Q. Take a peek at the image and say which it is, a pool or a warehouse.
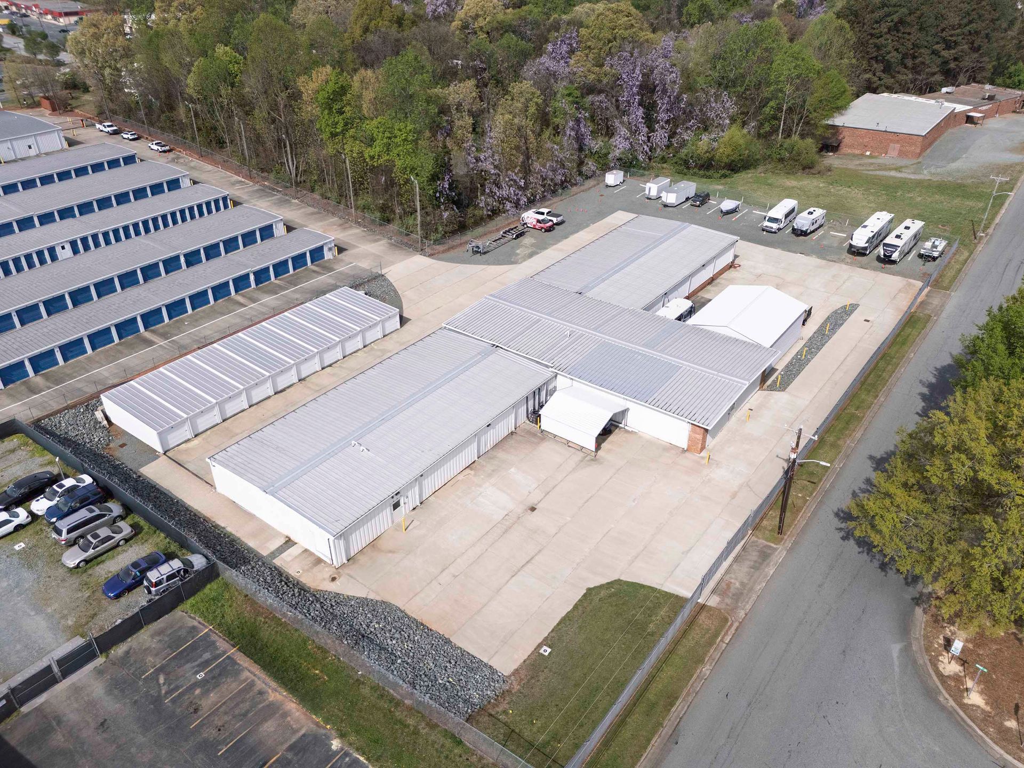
warehouse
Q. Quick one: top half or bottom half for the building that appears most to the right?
top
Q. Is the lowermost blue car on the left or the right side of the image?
left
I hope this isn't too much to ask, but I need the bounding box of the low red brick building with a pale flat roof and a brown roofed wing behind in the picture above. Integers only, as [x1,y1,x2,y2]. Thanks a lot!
[816,80,1024,162]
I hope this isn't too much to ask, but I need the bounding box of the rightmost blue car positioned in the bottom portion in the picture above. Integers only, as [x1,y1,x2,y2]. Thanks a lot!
[98,553,167,603]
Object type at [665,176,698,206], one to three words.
trailer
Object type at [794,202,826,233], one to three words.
vehicle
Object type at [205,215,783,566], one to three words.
warehouse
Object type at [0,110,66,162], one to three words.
building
